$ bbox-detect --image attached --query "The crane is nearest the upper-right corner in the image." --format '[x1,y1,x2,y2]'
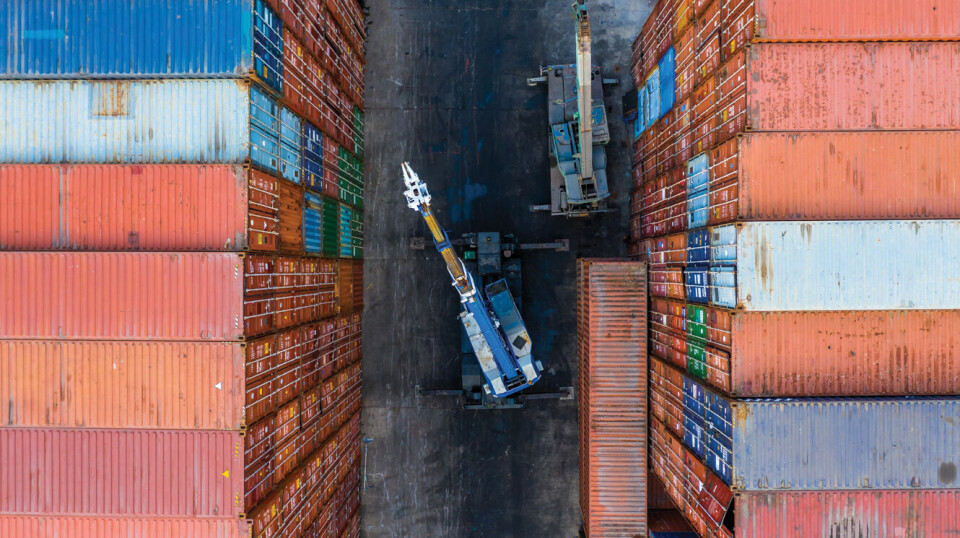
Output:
[523,0,622,222]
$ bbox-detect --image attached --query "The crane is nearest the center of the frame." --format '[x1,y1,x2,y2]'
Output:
[397,165,574,409]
